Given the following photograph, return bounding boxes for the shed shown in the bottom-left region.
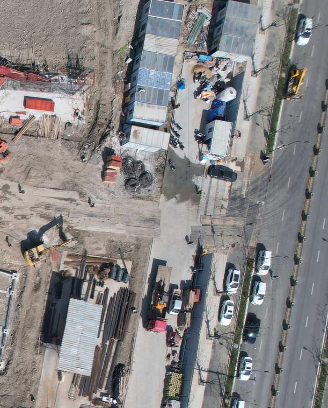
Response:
[46,299,104,376]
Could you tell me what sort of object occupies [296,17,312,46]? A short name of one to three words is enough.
car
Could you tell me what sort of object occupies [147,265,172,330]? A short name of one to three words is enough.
truck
